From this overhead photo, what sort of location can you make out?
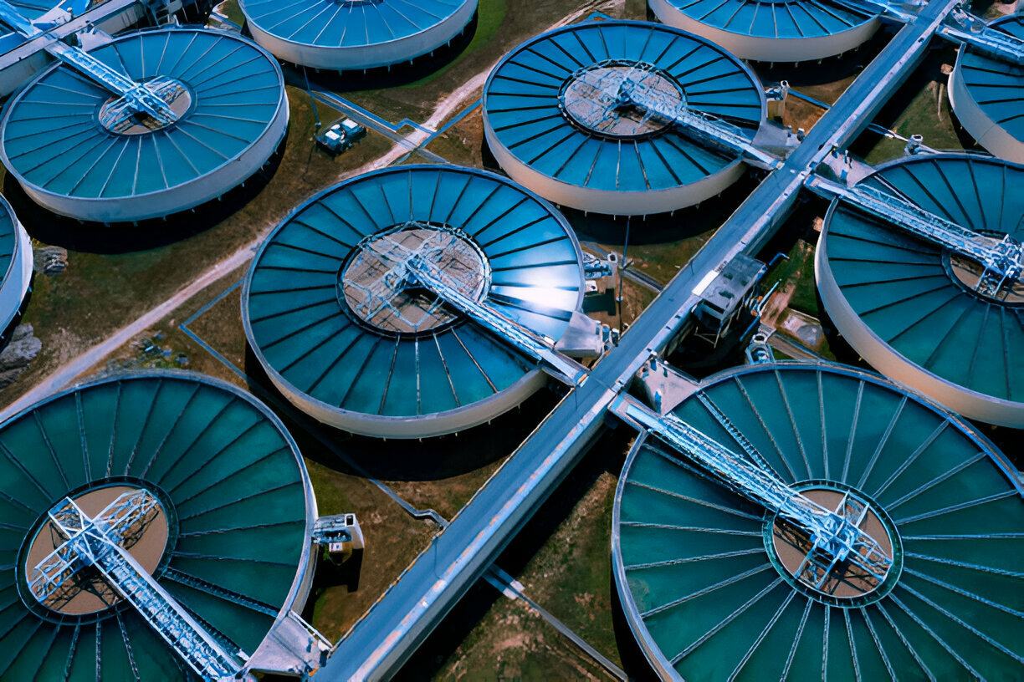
industrial area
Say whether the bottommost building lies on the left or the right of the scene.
left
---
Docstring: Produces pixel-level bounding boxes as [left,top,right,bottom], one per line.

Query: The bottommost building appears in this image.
[303,515,369,558]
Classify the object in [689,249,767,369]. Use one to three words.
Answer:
building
